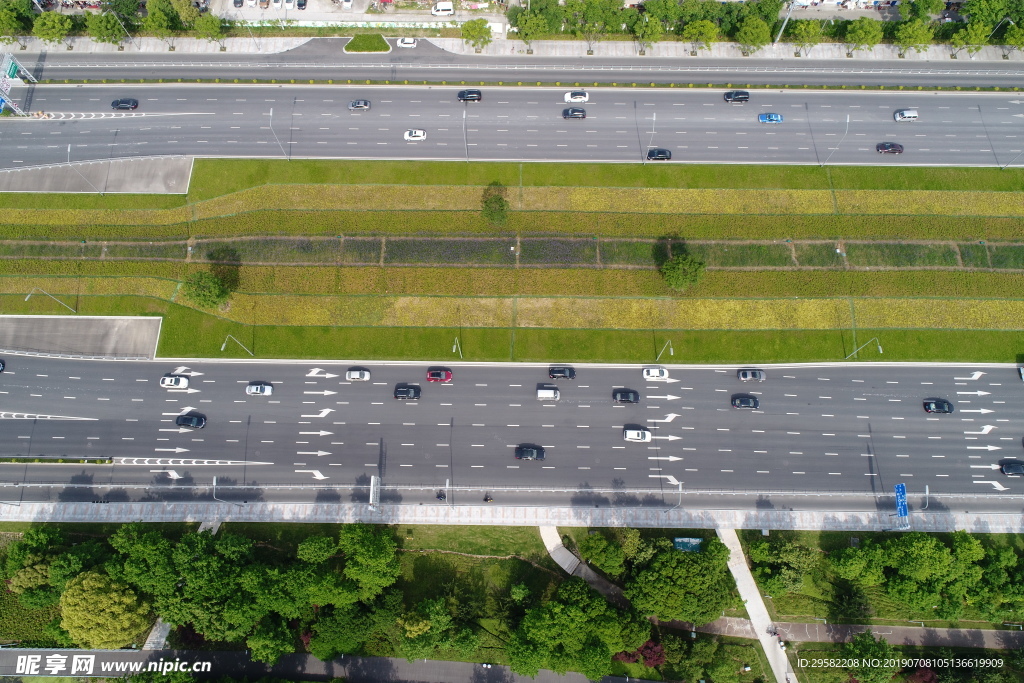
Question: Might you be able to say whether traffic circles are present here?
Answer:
No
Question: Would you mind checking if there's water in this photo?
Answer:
No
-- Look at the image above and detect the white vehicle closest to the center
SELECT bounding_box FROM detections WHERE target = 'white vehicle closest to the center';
[535,389,561,401]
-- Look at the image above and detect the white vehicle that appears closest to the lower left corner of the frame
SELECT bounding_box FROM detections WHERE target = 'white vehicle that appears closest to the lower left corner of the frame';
[158,376,187,389]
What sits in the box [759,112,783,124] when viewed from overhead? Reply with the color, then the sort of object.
blue vehicle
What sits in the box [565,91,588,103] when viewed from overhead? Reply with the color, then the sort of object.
white vehicle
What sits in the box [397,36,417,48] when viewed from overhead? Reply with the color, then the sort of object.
white vehicle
